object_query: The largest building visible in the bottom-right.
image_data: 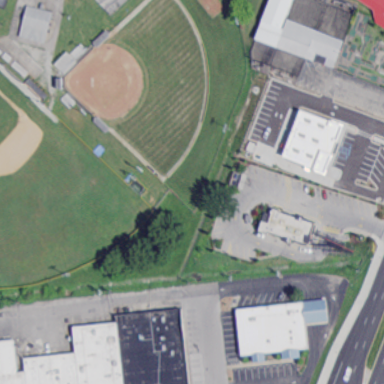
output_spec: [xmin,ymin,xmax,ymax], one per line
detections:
[236,299,330,363]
